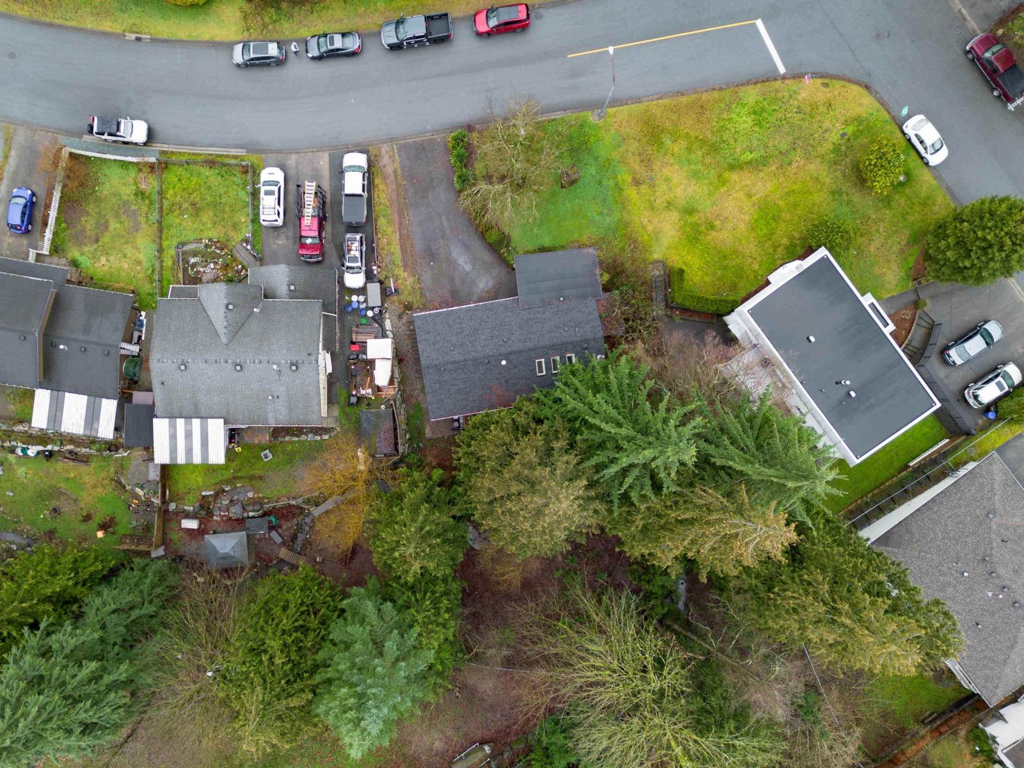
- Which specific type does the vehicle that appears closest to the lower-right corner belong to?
automobile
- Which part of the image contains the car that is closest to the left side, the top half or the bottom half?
top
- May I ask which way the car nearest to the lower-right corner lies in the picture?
diagonally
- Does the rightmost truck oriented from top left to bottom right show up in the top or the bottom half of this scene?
top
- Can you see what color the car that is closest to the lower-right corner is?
white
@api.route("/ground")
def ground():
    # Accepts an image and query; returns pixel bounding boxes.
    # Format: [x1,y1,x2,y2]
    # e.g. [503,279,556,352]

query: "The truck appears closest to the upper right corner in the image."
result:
[969,38,1024,111]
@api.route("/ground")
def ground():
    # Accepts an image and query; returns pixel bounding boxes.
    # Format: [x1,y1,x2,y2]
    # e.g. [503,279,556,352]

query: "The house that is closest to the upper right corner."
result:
[729,248,941,467]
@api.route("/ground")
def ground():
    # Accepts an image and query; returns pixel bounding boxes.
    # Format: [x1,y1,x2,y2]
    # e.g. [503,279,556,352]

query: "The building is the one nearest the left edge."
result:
[0,256,138,400]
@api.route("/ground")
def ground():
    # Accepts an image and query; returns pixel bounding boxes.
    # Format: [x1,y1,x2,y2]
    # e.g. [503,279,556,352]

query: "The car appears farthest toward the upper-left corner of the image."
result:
[87,112,150,144]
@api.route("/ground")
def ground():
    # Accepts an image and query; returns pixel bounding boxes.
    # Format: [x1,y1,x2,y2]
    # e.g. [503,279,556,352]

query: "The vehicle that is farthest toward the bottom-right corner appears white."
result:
[961,362,1021,410]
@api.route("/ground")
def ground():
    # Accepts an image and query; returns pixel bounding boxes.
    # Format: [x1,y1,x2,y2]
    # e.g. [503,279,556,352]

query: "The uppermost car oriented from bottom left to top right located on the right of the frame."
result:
[942,320,999,367]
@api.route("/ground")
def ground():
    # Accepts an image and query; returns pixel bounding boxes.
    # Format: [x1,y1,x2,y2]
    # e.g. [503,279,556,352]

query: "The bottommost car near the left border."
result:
[8,186,39,235]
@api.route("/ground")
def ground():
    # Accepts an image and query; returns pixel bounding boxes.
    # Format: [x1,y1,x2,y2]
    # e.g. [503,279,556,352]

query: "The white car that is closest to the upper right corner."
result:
[901,112,947,167]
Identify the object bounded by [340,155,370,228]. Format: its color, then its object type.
white truck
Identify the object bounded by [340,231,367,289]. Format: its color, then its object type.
white truck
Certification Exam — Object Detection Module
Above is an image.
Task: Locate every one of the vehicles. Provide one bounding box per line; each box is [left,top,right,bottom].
[340,155,370,228]
[340,231,367,289]
[87,112,150,144]
[305,31,364,61]
[942,320,999,367]
[969,38,1024,111]
[231,37,288,68]
[474,4,531,37]
[294,186,327,261]
[961,362,1021,410]
[381,13,456,50]
[258,168,288,227]
[8,186,39,235]
[901,112,947,167]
